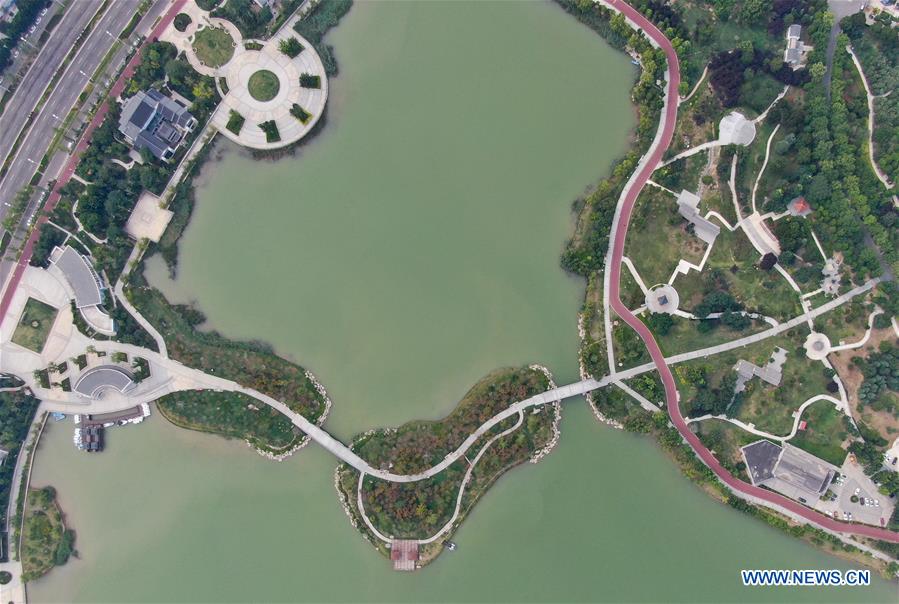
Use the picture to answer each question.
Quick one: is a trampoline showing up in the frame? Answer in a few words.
No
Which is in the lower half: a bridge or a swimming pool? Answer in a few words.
bridge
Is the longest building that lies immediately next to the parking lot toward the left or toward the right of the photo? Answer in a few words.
right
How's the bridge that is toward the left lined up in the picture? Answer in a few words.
on a diagonal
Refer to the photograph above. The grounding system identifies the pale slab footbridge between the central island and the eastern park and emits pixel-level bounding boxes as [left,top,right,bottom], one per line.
[534,378,597,404]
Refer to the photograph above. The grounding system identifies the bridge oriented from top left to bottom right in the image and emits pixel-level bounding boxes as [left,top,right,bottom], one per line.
[299,419,356,463]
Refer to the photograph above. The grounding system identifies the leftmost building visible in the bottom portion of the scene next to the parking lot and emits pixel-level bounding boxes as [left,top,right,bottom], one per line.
[737,437,837,494]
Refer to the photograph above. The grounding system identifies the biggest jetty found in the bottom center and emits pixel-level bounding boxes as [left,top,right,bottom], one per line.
[392,539,418,570]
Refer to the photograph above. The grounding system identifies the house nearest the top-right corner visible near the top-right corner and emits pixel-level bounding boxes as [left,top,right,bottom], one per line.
[782,25,803,65]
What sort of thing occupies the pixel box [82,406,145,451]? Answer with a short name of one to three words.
pier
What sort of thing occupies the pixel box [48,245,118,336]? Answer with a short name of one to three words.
building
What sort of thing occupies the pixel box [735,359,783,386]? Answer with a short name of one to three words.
building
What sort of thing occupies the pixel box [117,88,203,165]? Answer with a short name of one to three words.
house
